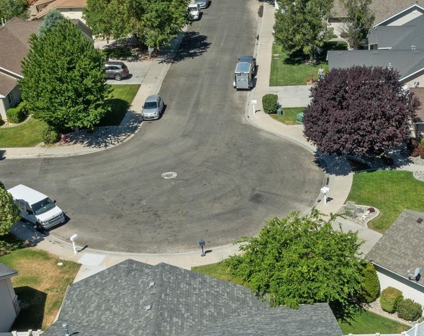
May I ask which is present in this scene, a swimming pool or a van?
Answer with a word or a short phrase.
van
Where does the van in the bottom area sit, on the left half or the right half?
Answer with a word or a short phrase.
left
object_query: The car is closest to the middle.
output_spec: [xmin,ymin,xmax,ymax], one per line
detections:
[141,96,164,118]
